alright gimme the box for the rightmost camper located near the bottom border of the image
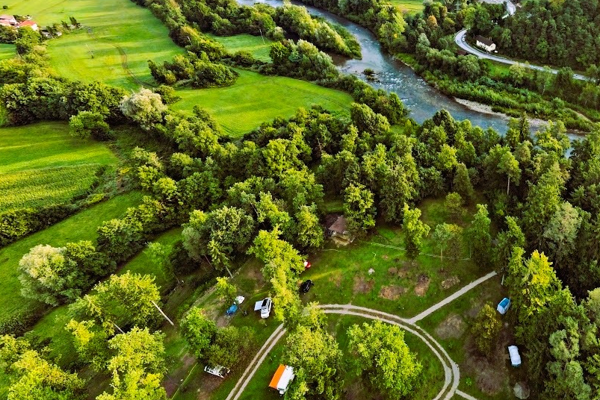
[267,369,291,399]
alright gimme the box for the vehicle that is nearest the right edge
[300,279,314,294]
